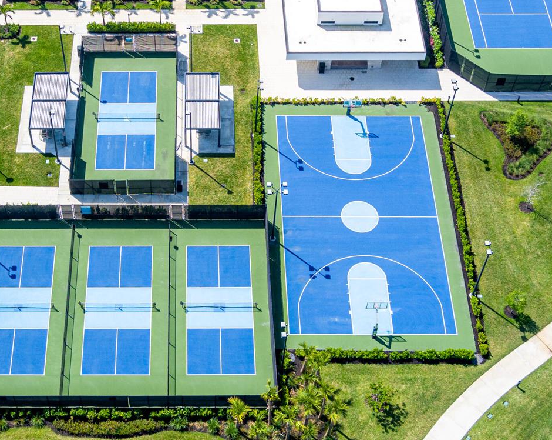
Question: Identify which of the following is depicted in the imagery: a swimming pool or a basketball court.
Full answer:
This aerial view contains a basketball court.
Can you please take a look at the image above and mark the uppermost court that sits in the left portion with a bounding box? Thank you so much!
[73,51,176,194]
